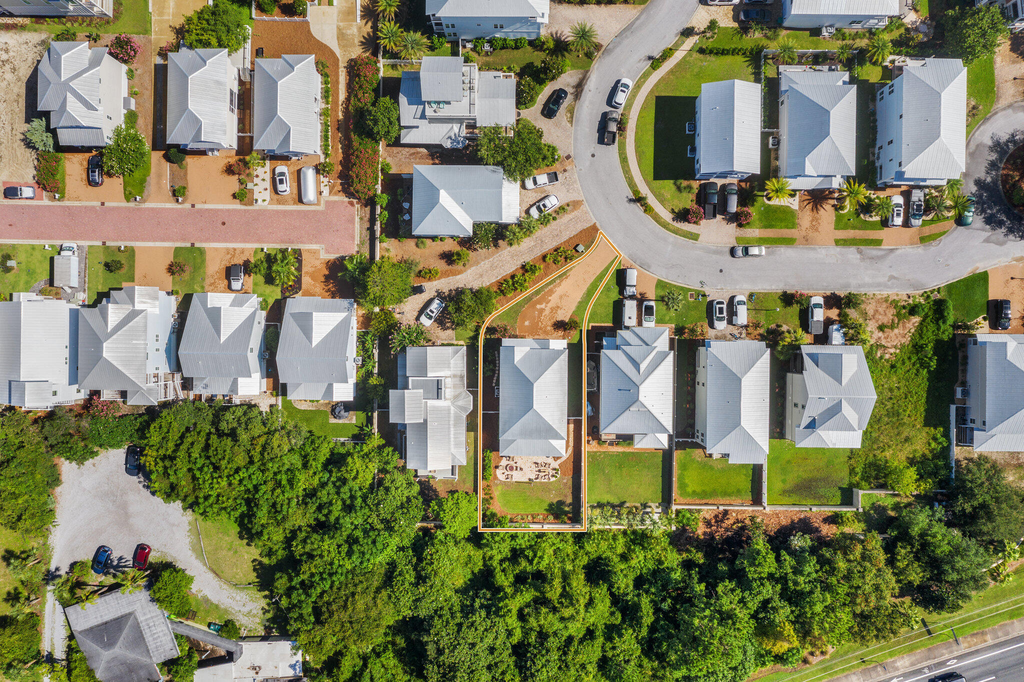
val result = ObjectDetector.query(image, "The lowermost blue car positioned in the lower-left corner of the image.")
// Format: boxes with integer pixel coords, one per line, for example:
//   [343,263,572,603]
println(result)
[92,544,114,575]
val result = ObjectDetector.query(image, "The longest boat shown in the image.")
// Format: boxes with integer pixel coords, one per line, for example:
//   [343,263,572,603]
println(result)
[584,356,600,396]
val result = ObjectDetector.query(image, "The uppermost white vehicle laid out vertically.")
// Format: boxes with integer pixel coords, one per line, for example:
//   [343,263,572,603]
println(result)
[613,76,632,110]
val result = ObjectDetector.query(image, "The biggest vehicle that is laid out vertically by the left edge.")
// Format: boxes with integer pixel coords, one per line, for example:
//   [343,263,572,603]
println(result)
[50,234,78,298]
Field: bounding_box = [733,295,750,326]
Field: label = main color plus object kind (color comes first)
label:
white car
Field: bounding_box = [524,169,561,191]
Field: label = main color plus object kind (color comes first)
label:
white truck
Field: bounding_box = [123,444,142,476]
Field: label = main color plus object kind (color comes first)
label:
black car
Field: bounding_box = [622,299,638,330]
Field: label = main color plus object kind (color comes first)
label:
white vehicle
